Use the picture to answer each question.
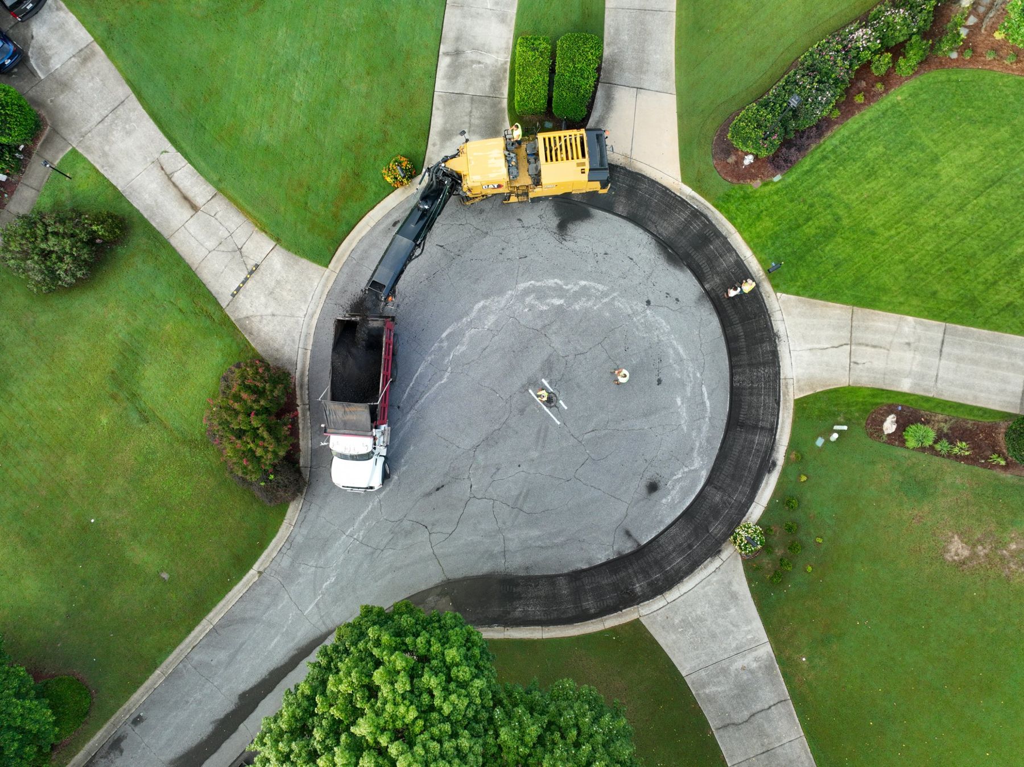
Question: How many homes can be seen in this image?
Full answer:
No homes are visible.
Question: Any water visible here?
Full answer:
No, there's no water in this view.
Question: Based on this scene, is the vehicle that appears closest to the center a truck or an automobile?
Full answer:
In the photo, the vehicle that appears closest to the center shows up as a truck.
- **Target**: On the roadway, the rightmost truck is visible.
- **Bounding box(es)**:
[321,316,396,495]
